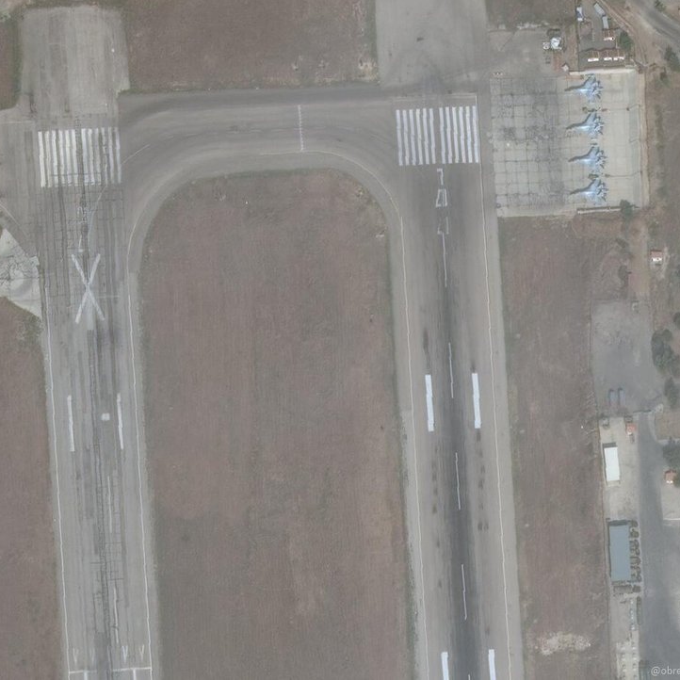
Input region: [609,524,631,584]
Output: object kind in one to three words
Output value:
building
